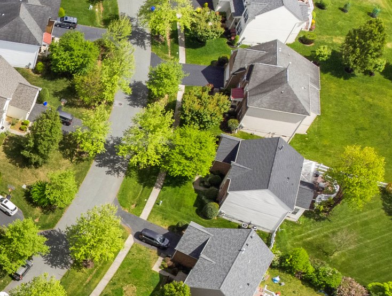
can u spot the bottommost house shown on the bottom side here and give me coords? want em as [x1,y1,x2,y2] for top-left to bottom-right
[172,217,275,296]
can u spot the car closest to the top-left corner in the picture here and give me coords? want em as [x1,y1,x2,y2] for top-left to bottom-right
[57,15,80,30]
